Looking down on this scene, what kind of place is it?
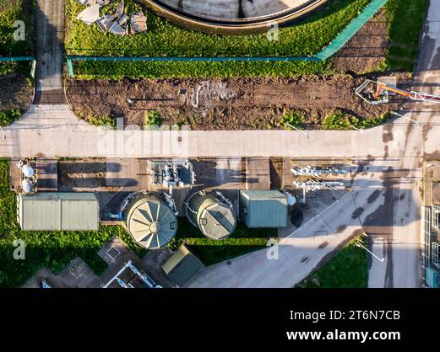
industrial area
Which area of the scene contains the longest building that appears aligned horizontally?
left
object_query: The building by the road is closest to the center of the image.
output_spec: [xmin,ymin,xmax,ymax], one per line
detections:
[239,192,287,228]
